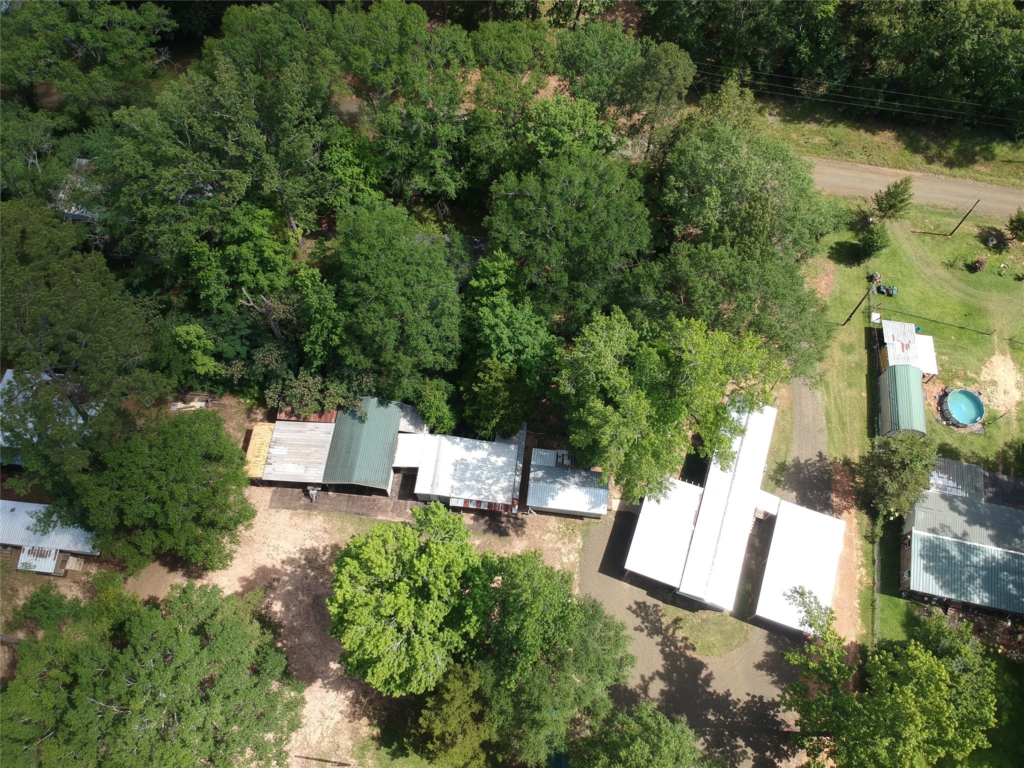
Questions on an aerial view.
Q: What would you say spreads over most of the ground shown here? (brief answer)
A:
trees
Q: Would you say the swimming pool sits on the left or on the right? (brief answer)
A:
right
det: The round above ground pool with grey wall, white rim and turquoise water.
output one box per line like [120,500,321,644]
[942,391,986,429]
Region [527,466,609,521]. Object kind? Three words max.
house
